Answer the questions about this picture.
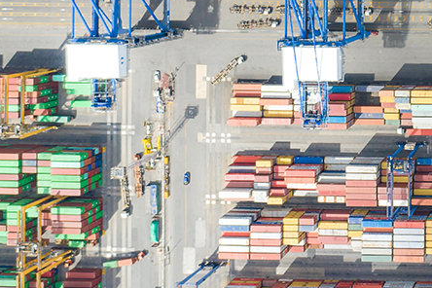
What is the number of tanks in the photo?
0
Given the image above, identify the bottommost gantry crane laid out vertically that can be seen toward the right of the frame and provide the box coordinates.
[385,139,427,223]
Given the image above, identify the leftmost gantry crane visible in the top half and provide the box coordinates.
[1,64,70,135]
